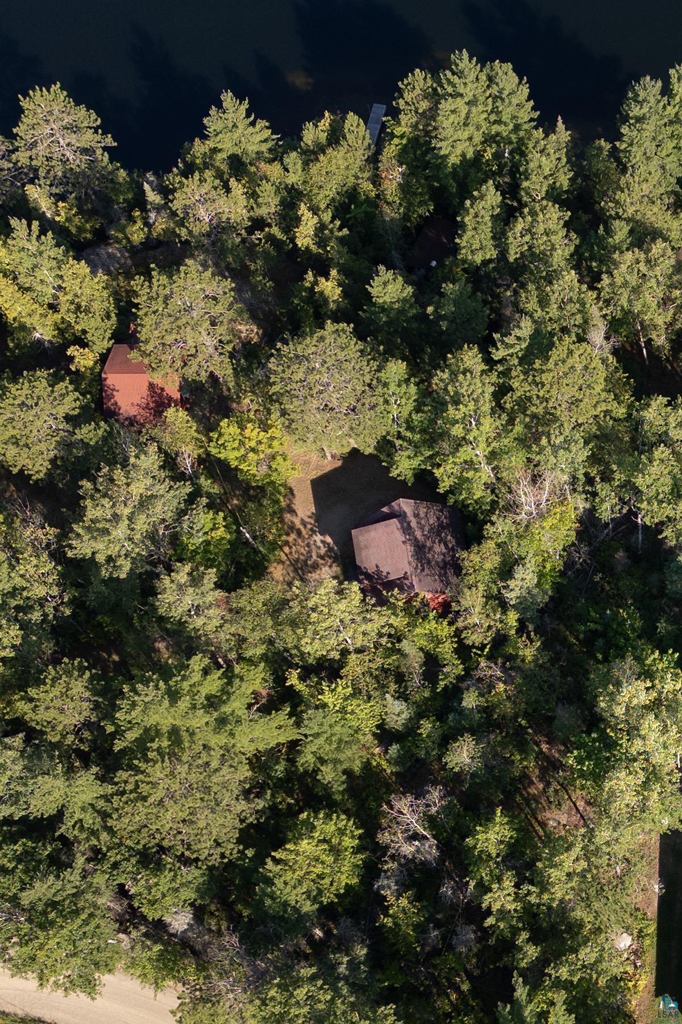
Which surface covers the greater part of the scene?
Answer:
trees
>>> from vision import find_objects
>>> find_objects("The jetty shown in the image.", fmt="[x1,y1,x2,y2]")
[363,104,386,171]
